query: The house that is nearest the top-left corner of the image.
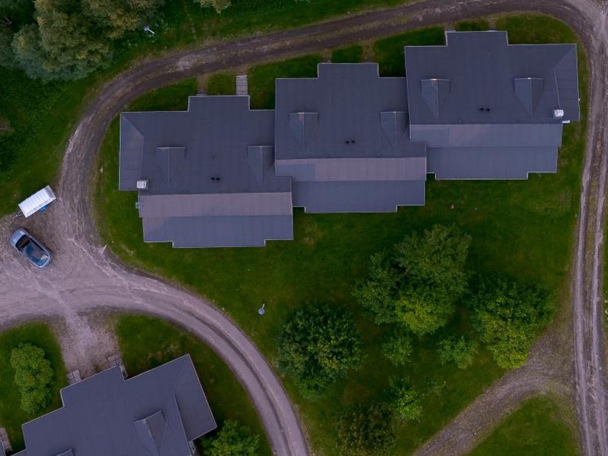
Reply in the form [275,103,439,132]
[119,96,294,248]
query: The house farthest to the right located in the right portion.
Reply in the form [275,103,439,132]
[405,32,579,180]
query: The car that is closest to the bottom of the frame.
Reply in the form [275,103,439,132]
[12,227,56,271]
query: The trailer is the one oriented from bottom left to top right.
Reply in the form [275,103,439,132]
[15,185,59,218]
